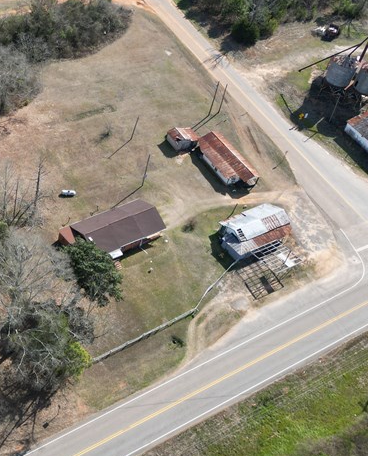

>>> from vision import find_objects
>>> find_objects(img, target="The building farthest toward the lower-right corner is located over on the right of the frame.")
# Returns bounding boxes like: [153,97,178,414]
[204,208,305,283]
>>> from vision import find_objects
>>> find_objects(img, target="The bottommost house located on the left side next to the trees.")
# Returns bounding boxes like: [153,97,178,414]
[63,198,169,261]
